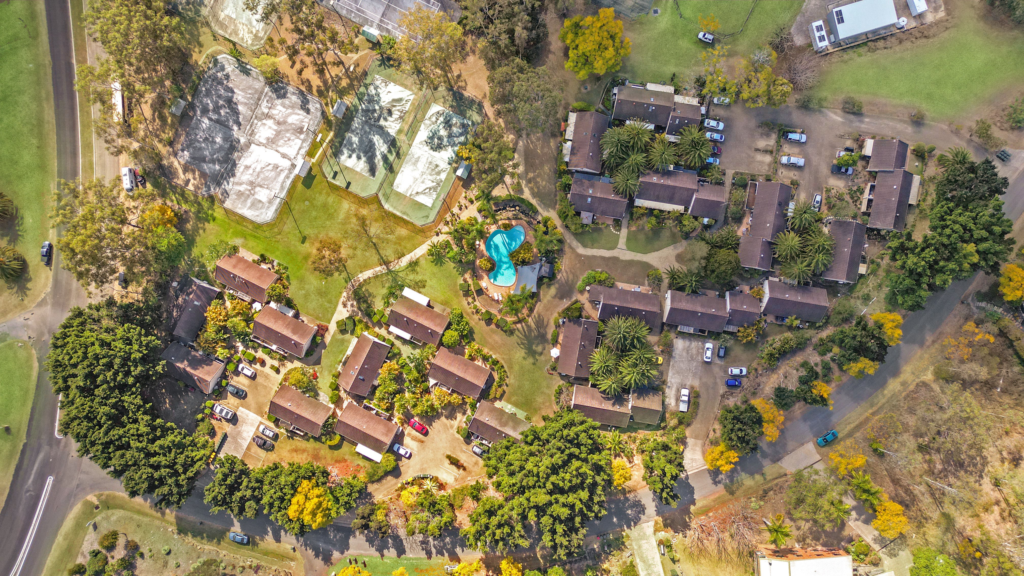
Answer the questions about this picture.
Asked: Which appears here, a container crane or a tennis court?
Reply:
tennis court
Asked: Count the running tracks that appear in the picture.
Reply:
0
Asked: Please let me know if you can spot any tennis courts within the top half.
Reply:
Yes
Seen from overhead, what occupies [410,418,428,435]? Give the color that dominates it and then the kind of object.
red car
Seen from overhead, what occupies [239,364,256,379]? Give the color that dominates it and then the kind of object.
white car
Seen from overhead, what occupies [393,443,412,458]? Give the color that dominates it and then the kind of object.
white car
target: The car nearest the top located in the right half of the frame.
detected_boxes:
[697,32,714,44]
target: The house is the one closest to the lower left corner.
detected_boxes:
[160,342,227,395]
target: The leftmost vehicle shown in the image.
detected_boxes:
[41,243,53,264]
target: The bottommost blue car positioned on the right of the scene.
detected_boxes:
[817,430,837,446]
